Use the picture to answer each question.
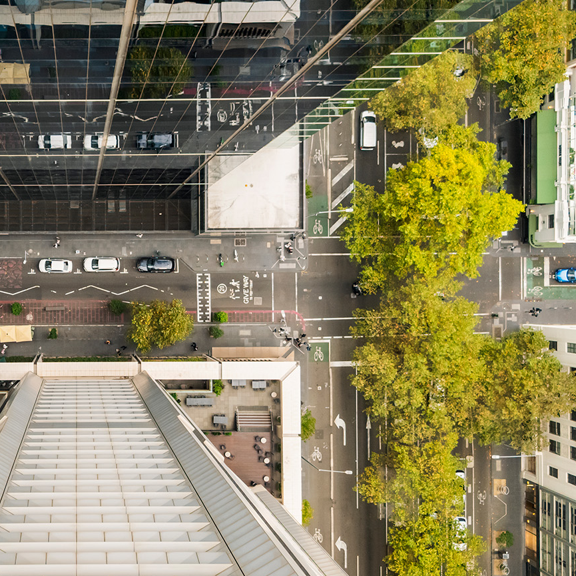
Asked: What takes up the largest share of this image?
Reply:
buildings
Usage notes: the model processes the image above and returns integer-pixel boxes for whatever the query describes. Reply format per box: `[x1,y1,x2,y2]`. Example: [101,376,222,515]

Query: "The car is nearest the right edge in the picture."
[553,266,576,285]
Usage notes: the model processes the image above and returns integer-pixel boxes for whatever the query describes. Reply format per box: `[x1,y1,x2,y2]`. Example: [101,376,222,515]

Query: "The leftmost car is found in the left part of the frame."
[38,257,73,274]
